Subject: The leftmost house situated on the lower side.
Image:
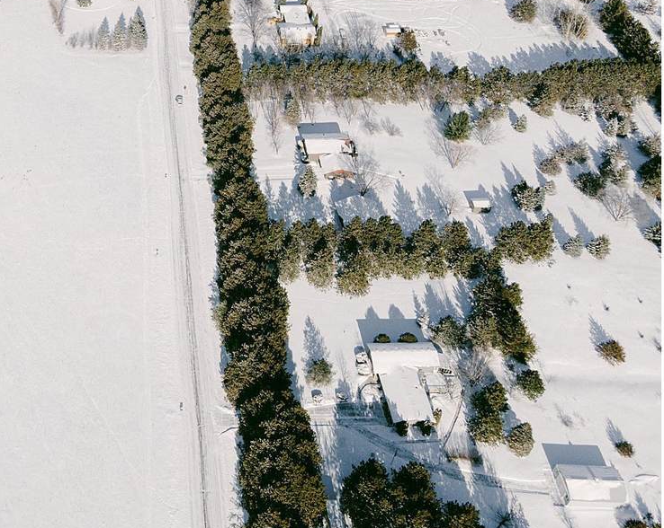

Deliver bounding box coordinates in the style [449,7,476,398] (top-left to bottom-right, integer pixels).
[365,343,452,431]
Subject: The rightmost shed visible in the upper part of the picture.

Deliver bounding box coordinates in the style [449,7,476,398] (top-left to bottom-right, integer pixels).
[462,193,494,213]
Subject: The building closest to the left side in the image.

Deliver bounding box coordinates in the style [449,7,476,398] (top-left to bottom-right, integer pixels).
[268,2,318,52]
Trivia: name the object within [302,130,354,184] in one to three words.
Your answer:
house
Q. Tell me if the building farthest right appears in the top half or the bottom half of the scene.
bottom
